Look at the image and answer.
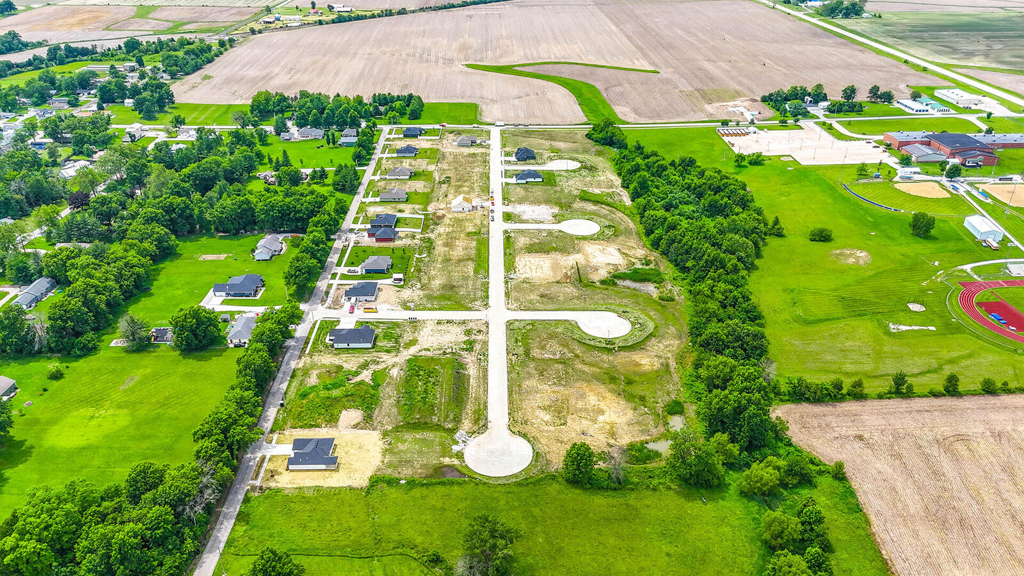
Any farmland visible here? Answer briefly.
Yes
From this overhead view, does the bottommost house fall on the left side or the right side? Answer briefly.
left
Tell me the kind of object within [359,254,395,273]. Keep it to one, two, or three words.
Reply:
house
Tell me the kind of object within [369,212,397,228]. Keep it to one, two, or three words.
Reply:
house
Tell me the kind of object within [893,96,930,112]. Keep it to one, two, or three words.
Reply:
building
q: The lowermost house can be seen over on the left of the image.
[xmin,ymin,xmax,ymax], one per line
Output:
[285,435,341,471]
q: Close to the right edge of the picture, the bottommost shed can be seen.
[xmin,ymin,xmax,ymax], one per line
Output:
[959,214,1005,241]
